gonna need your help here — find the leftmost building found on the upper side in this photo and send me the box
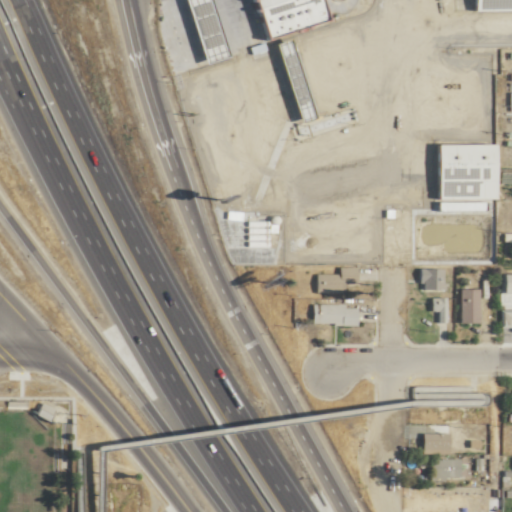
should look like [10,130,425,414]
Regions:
[190,0,231,64]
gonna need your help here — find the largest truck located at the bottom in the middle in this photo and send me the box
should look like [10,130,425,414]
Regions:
[215,367,241,407]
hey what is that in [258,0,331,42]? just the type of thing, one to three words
building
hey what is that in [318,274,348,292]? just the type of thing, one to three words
house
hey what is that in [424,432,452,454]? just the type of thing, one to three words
house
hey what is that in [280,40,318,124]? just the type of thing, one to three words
building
